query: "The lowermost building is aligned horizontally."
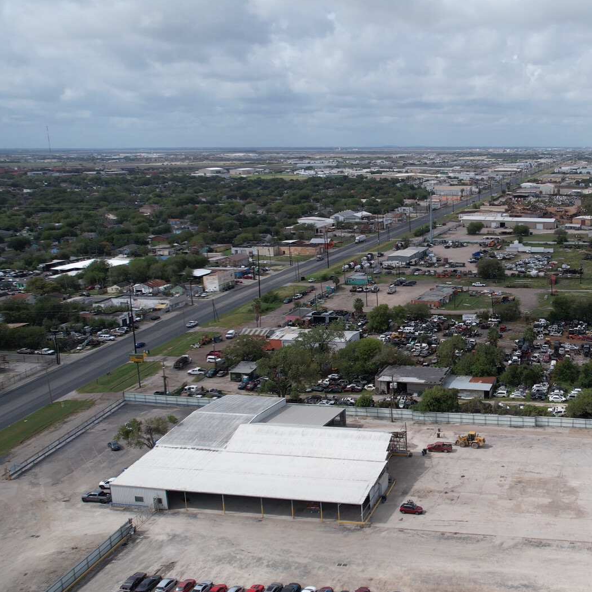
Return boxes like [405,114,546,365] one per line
[105,396,405,524]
